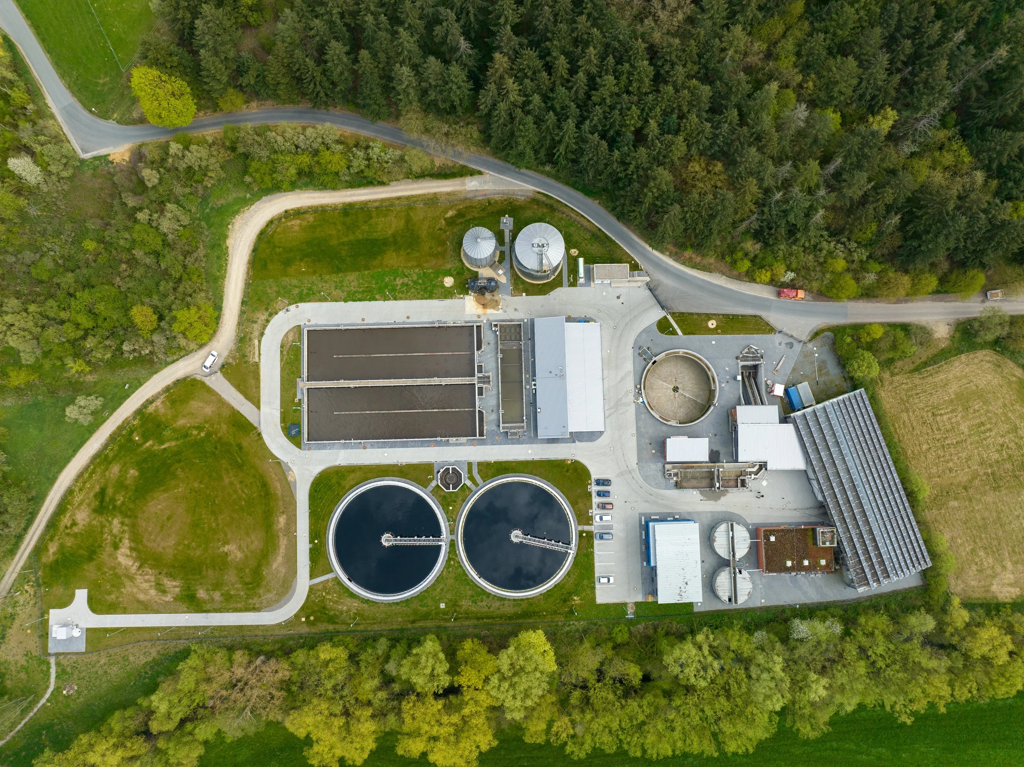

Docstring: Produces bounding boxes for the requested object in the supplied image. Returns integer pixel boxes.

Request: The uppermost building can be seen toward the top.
[593,264,629,284]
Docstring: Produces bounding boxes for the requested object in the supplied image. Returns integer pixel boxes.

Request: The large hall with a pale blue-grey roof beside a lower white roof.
[535,316,607,438]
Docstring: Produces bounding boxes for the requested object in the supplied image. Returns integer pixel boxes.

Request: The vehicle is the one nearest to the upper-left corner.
[203,349,217,371]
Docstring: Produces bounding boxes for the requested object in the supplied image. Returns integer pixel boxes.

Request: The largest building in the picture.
[787,389,931,592]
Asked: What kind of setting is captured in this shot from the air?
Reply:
industrial area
